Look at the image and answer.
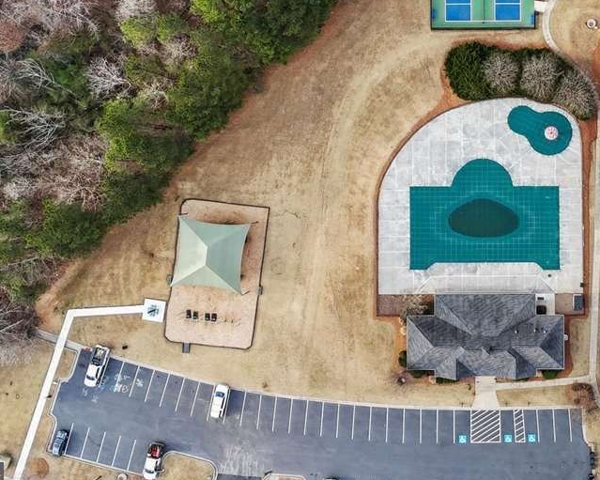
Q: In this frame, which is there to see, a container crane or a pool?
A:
pool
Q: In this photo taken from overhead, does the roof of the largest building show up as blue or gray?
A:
gray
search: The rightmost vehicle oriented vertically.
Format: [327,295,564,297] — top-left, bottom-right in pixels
[211,385,230,418]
